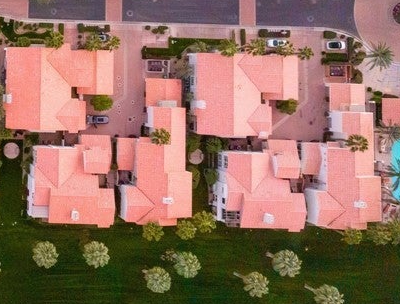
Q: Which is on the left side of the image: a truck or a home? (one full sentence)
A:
The one visible on the left side of the image is a home.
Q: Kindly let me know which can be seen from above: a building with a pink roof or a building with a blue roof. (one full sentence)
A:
It is a building with a pink roof that can be seen here.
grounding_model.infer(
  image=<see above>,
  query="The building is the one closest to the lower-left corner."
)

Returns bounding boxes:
[26,138,112,226]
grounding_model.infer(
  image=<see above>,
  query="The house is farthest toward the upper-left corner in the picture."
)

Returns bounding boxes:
[5,44,111,129]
